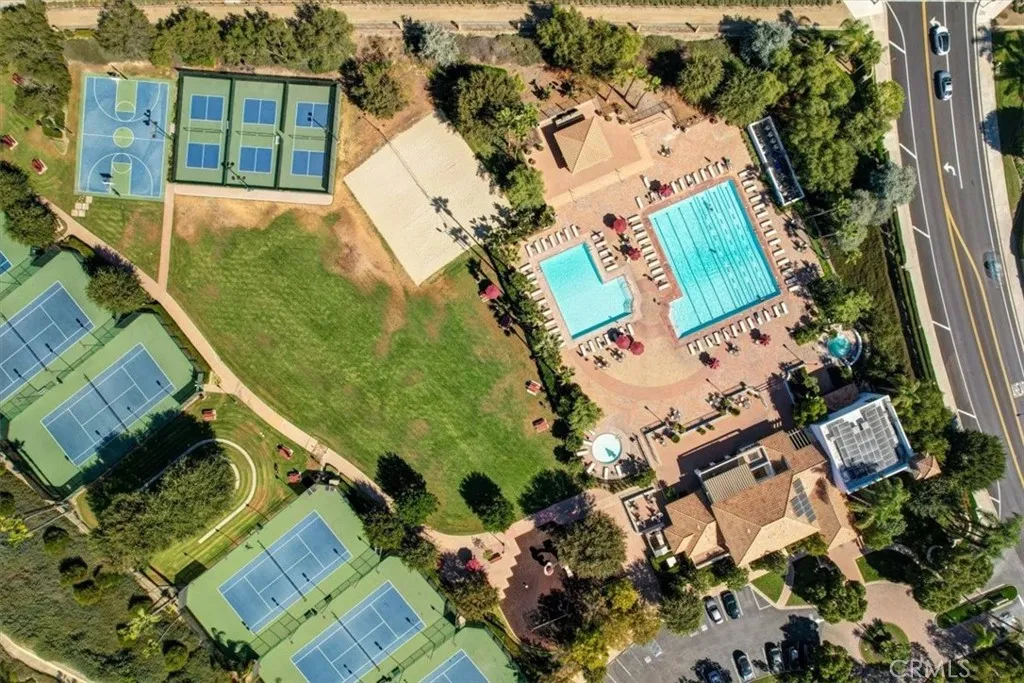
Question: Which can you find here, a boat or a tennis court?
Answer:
tennis court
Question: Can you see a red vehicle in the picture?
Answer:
No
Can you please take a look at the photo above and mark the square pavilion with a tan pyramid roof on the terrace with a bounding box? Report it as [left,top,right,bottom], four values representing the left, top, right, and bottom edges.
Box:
[554,116,613,173]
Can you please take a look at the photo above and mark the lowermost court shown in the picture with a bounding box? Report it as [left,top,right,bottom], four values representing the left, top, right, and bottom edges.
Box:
[389,623,521,683]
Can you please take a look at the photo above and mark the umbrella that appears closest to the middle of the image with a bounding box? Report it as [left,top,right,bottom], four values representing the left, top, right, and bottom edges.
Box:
[482,283,498,299]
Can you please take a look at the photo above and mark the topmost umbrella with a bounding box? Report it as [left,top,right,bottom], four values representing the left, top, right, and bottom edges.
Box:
[661,182,676,196]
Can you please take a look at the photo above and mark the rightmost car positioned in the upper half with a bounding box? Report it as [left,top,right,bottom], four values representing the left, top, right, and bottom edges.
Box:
[987,252,1004,279]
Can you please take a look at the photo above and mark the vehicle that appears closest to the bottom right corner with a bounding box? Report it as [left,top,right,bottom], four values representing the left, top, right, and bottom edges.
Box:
[995,612,1024,632]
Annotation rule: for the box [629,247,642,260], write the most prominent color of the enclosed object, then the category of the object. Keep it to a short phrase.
red umbrella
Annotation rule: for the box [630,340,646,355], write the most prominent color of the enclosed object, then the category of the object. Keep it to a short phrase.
red umbrella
